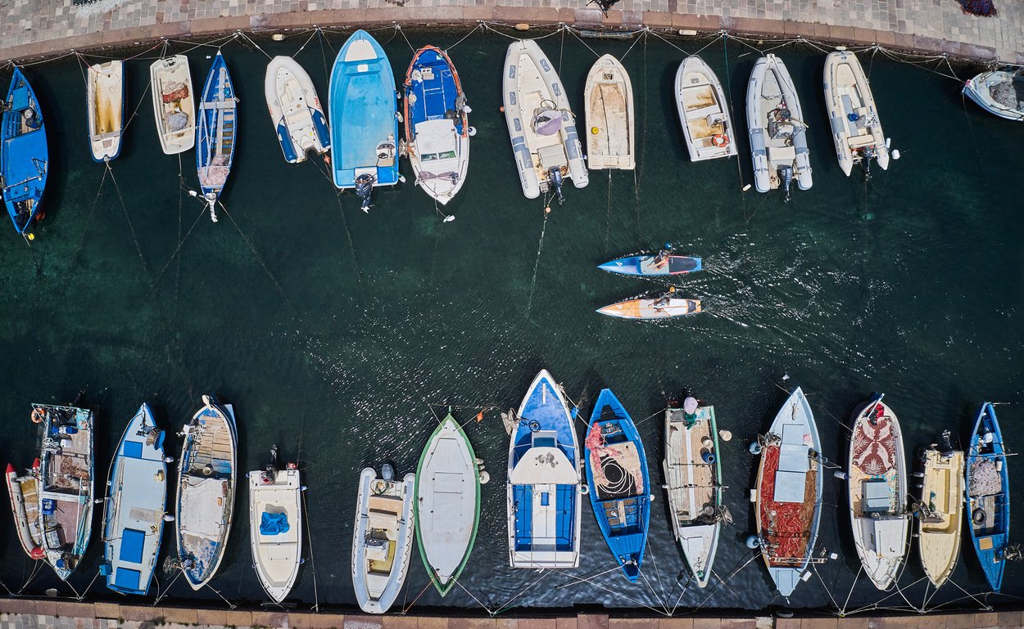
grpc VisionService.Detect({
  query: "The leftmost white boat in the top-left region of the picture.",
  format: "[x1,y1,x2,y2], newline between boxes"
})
[88,61,128,162]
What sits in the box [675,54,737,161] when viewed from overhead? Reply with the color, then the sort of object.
white boat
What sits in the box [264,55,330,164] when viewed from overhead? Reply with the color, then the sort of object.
white boat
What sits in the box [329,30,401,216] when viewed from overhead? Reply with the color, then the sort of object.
blue boat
